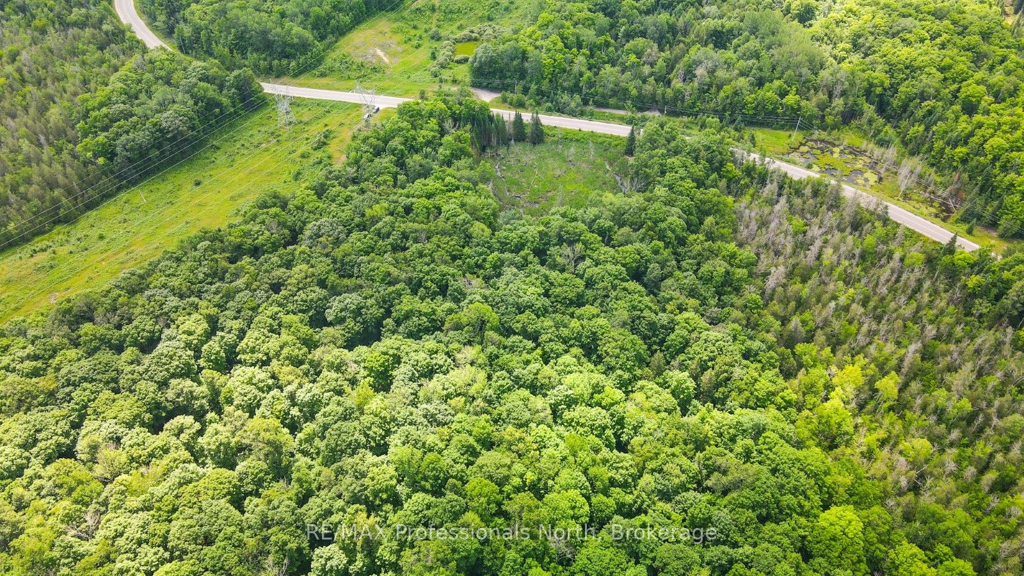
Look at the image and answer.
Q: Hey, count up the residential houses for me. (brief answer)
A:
none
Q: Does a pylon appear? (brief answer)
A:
Yes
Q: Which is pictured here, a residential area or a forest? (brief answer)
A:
forest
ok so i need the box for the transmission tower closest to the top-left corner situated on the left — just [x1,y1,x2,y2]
[264,76,300,130]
